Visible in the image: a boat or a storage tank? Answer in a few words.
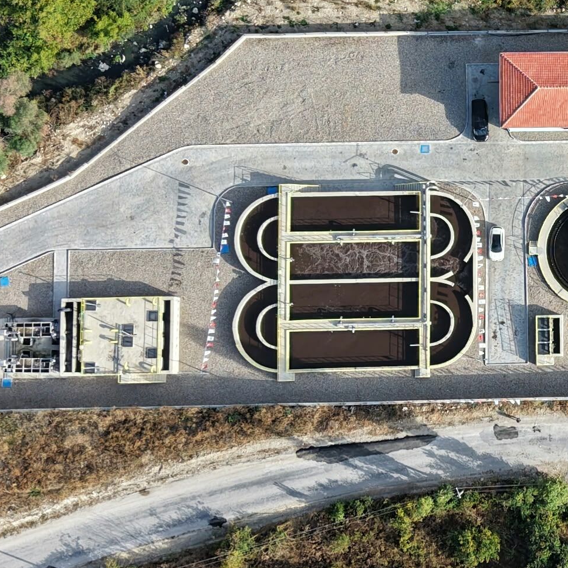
storage tank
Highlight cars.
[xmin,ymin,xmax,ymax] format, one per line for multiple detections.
[487,226,505,261]
[471,98,489,141]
